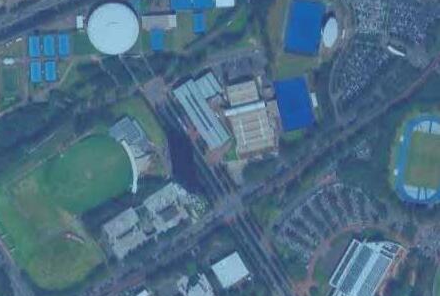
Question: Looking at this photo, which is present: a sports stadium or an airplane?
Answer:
sports stadium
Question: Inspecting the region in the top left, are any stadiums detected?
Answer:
Yes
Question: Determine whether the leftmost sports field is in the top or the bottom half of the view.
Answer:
bottom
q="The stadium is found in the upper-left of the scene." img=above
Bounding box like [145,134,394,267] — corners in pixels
[87,3,140,55]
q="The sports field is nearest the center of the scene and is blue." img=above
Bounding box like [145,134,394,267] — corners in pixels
[274,77,316,131]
